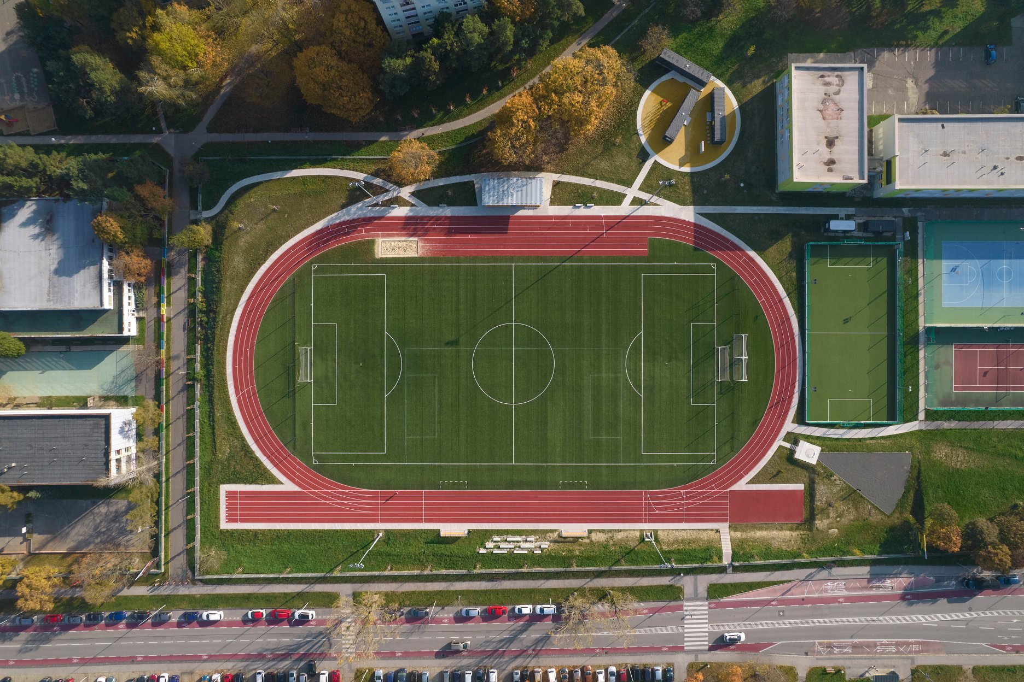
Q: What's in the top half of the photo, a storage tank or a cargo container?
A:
cargo container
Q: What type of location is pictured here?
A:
sports ground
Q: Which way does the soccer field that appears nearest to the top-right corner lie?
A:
vertically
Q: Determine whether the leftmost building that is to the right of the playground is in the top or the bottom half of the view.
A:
top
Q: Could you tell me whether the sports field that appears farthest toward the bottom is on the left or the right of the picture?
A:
right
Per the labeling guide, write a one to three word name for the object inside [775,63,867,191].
building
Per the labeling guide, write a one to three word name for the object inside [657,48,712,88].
shipping container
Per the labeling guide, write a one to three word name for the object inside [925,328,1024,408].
tennis court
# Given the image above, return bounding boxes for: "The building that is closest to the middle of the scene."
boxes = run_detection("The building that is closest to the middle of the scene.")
[482,178,543,211]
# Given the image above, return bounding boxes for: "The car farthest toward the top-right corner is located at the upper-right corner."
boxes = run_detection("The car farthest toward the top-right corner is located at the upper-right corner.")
[984,43,996,65]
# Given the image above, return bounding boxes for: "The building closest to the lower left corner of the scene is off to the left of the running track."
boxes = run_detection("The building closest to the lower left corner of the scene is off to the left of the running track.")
[0,409,136,484]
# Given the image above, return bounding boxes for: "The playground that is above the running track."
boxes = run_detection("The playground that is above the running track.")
[637,70,740,172]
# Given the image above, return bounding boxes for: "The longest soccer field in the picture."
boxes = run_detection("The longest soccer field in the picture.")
[254,237,775,490]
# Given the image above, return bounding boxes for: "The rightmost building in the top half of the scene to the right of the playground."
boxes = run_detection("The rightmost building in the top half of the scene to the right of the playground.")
[874,115,1024,198]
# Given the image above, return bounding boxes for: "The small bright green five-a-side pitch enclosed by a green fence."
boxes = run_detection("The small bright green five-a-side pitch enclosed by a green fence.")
[809,244,896,423]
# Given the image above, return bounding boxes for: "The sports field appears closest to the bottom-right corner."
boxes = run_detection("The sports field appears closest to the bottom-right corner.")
[817,452,911,516]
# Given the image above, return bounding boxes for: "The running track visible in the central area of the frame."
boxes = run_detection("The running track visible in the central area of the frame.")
[220,207,804,529]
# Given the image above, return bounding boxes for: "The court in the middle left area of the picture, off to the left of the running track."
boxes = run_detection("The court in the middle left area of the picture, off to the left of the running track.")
[0,351,135,396]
